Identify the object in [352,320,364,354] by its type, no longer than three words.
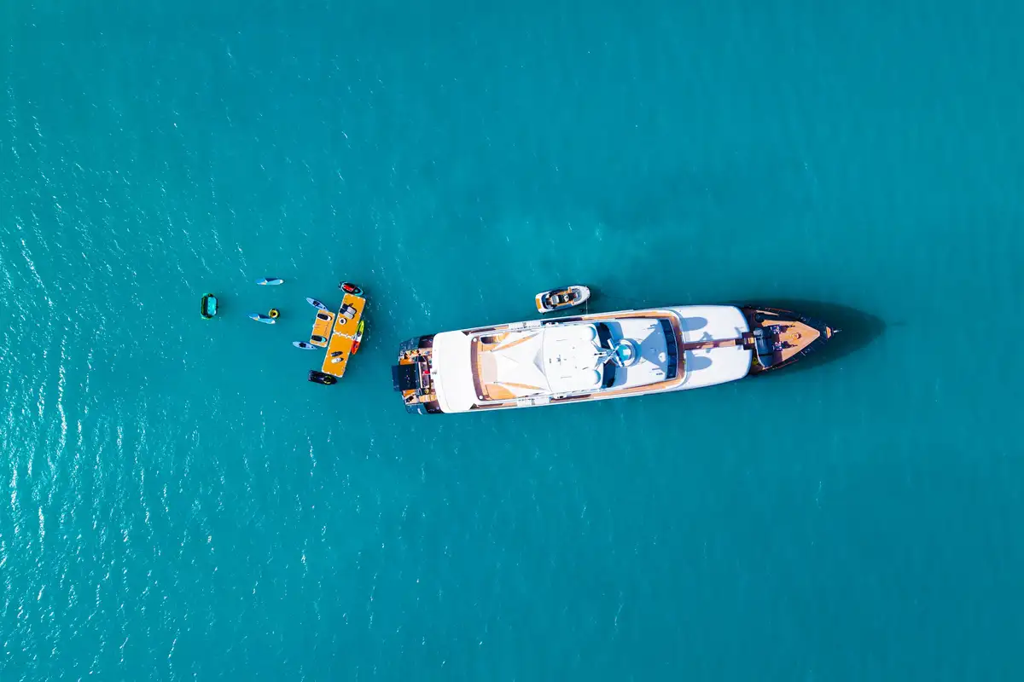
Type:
boat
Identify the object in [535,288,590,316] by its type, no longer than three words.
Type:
boat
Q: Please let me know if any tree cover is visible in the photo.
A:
No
